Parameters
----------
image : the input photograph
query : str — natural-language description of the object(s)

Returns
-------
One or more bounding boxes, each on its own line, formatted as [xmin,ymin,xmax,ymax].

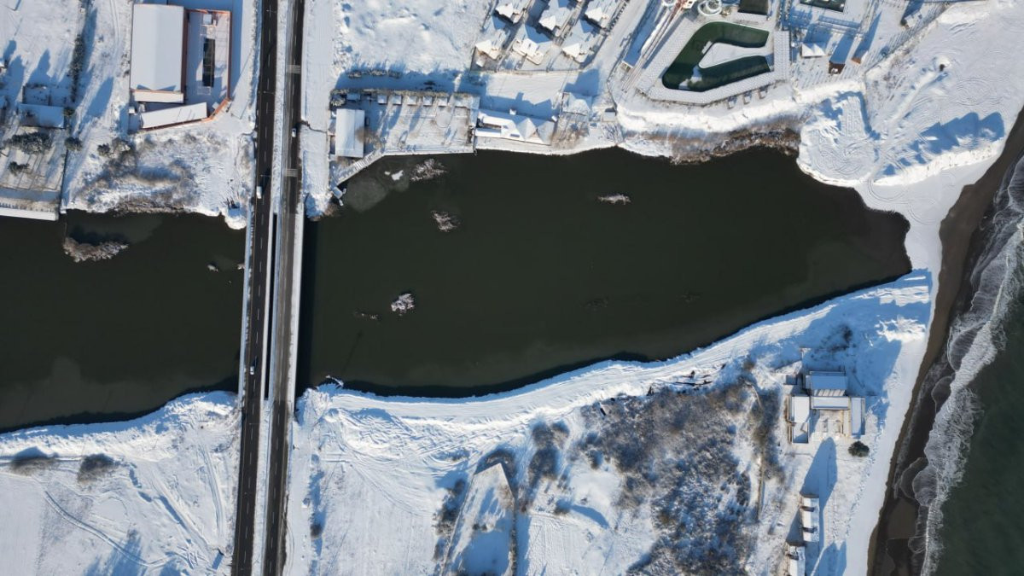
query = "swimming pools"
[660,18,774,95]
[734,0,771,18]
[797,0,848,16]
[202,37,216,87]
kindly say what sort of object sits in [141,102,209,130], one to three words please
shed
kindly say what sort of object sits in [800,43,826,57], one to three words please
building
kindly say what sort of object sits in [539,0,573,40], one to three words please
house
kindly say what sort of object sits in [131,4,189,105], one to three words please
building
